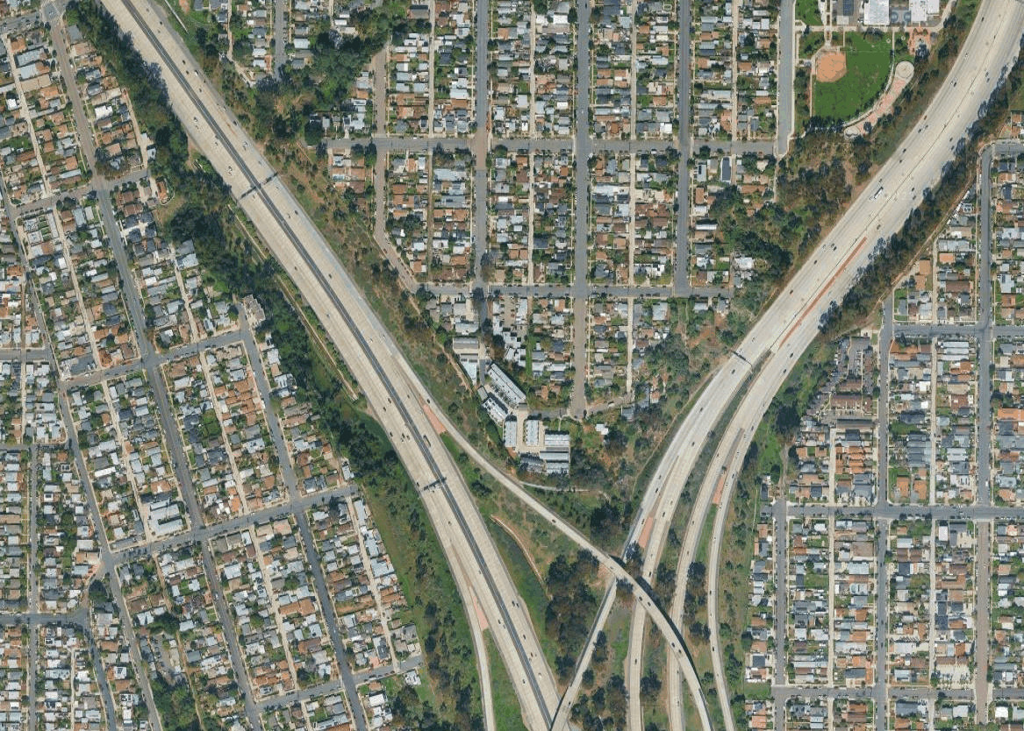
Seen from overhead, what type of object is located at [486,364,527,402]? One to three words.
building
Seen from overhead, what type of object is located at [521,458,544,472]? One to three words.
building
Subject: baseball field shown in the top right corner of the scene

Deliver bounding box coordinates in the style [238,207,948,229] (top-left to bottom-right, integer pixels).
[814,32,892,116]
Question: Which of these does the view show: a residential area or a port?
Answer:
residential area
